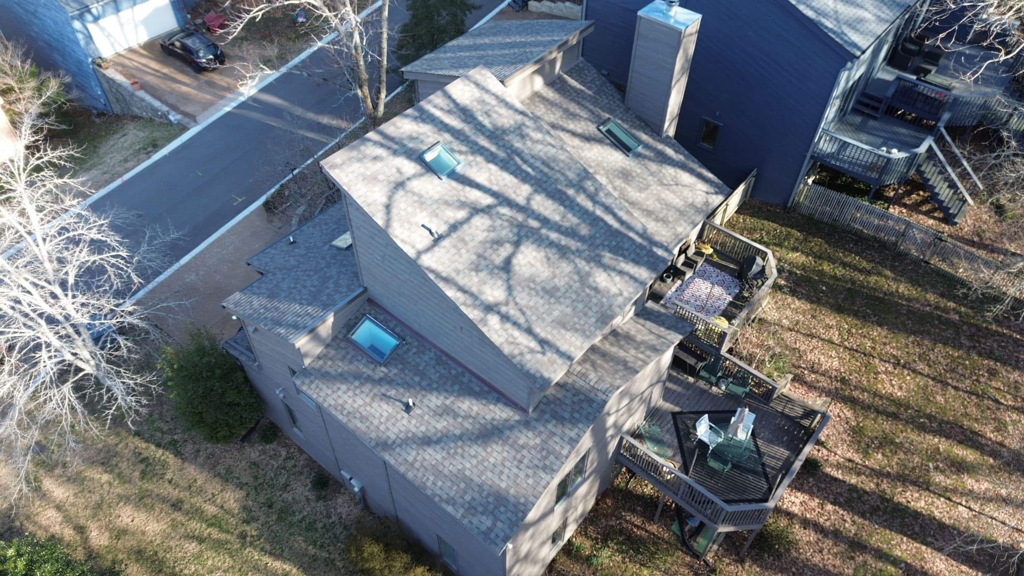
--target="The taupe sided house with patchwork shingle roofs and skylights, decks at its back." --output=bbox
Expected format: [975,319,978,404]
[219,0,735,576]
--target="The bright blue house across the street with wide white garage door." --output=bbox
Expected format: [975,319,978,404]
[0,0,214,112]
